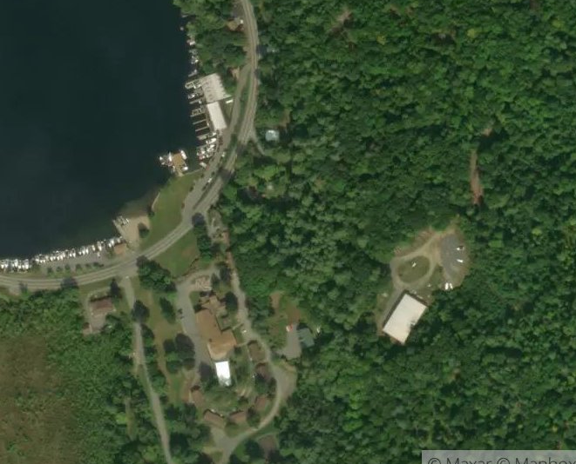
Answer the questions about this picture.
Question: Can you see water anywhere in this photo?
Yes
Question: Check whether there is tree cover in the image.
Yes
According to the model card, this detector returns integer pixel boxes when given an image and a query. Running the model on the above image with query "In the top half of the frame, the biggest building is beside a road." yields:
[200,74,231,103]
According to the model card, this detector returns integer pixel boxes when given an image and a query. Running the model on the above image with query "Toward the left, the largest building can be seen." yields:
[195,297,239,358]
